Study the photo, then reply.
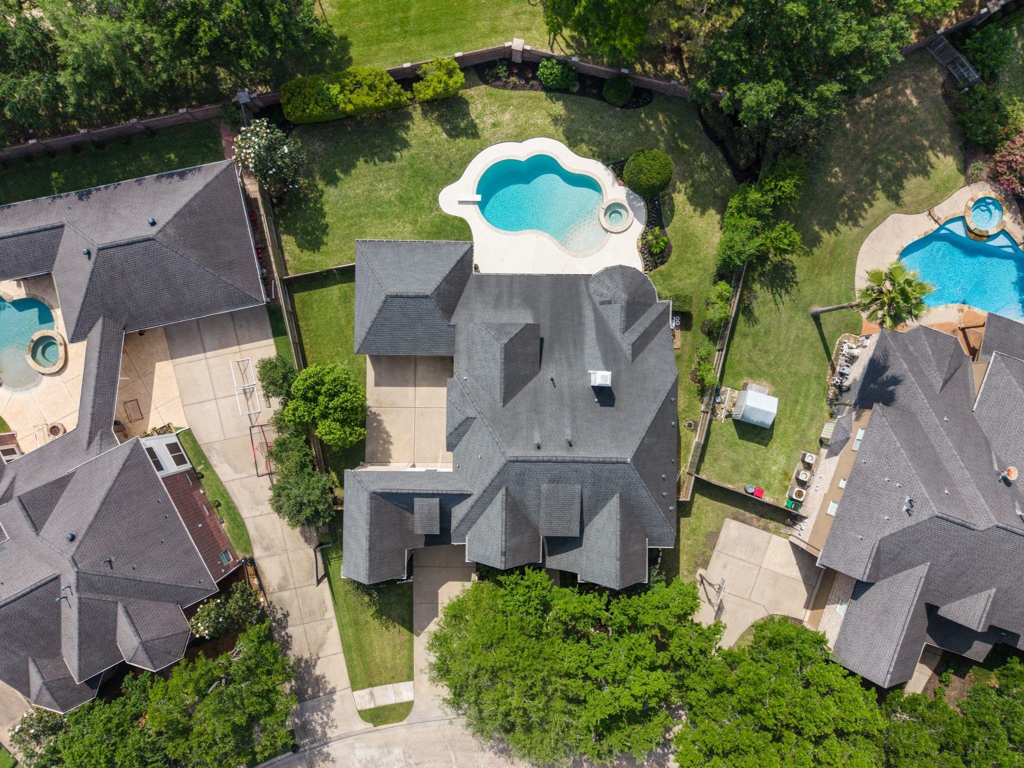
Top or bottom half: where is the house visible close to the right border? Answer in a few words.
bottom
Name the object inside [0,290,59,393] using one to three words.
swimming pool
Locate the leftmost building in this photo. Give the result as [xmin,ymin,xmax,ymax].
[0,159,274,715]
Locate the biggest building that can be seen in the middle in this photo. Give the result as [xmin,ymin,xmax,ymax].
[340,238,680,590]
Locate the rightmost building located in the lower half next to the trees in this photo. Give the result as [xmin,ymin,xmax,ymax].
[783,311,1024,688]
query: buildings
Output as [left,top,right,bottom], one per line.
[732,394,785,428]
[0,159,274,715]
[783,311,1024,688]
[340,238,680,590]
